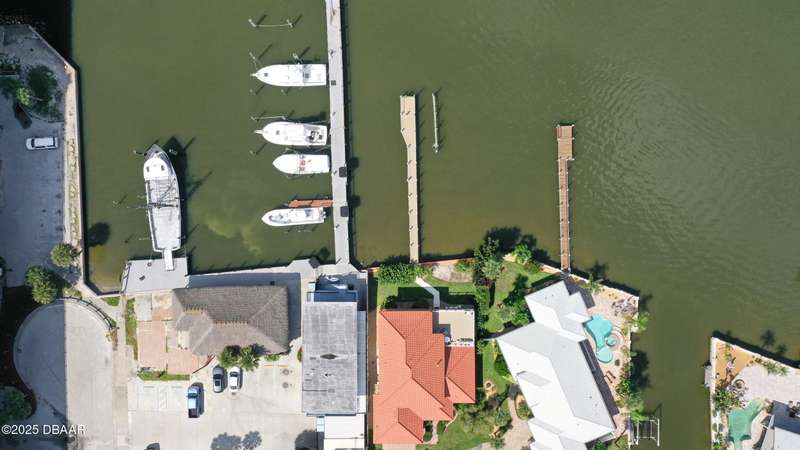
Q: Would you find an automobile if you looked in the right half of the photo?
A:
No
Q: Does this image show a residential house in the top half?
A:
No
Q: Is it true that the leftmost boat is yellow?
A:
No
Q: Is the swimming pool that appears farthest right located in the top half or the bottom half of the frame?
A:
bottom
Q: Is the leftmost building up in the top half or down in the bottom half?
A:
bottom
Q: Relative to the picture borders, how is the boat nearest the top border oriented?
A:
from left to right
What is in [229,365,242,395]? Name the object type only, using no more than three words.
vehicle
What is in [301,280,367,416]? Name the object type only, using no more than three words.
building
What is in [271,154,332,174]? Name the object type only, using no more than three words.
boat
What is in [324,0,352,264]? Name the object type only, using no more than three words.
pier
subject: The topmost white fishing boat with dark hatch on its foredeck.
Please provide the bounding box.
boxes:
[249,58,327,87]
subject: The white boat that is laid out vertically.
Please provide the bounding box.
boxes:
[137,143,186,250]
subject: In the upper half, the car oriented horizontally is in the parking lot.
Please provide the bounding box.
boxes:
[27,135,59,149]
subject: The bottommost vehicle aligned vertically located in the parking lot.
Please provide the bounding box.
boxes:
[188,383,203,419]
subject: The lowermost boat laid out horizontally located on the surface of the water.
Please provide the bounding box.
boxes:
[261,207,329,226]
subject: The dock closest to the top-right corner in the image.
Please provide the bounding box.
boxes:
[555,124,576,273]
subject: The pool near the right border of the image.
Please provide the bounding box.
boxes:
[727,398,764,450]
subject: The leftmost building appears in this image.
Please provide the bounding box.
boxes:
[172,286,288,355]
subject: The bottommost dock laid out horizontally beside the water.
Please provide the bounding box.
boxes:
[120,258,191,294]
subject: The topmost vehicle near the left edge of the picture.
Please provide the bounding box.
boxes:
[13,104,38,131]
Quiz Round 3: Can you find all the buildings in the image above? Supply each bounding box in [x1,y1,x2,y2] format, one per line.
[301,280,367,416]
[497,281,614,450]
[372,307,476,445]
[751,416,800,450]
[172,286,288,355]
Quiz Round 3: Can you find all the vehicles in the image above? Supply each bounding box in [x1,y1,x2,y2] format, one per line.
[188,383,203,419]
[211,365,225,393]
[27,135,59,149]
[229,365,242,395]
[13,104,38,131]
